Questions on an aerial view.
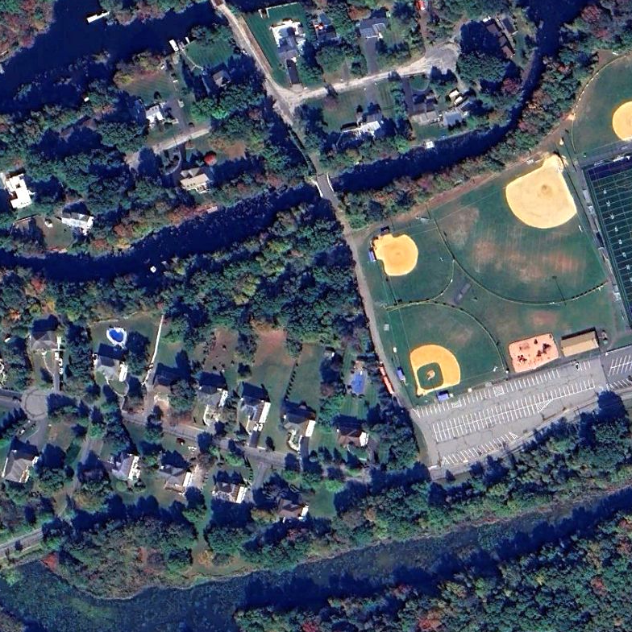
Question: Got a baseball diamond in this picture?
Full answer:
Yes, you can see a baseball diamond in this photo.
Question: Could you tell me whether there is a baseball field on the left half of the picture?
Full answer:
No, no baseball field is visible on the left half of the picture.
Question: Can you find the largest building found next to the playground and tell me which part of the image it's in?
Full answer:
You can find the largest building found next to the playground in the right area of the picture.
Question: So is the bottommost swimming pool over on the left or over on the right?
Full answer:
It is on the left.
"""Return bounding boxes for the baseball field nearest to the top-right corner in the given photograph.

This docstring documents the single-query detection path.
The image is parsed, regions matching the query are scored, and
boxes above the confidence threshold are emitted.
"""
[569,54,632,159]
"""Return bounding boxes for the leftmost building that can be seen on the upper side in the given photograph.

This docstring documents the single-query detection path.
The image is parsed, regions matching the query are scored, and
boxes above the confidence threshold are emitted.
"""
[4,171,37,207]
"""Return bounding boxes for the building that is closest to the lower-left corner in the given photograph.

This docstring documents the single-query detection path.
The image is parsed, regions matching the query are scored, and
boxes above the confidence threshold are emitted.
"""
[2,448,40,482]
